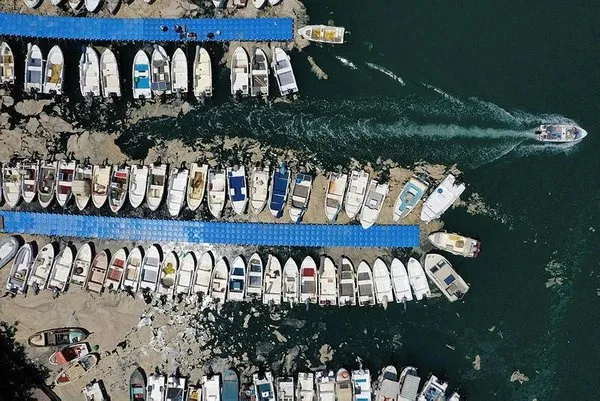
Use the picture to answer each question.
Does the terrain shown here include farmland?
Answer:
No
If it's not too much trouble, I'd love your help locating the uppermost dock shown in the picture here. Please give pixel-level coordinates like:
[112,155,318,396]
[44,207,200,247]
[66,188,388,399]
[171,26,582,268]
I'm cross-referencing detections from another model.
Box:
[0,11,295,41]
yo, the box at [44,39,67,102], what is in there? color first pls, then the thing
white boat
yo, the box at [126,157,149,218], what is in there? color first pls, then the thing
white boat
